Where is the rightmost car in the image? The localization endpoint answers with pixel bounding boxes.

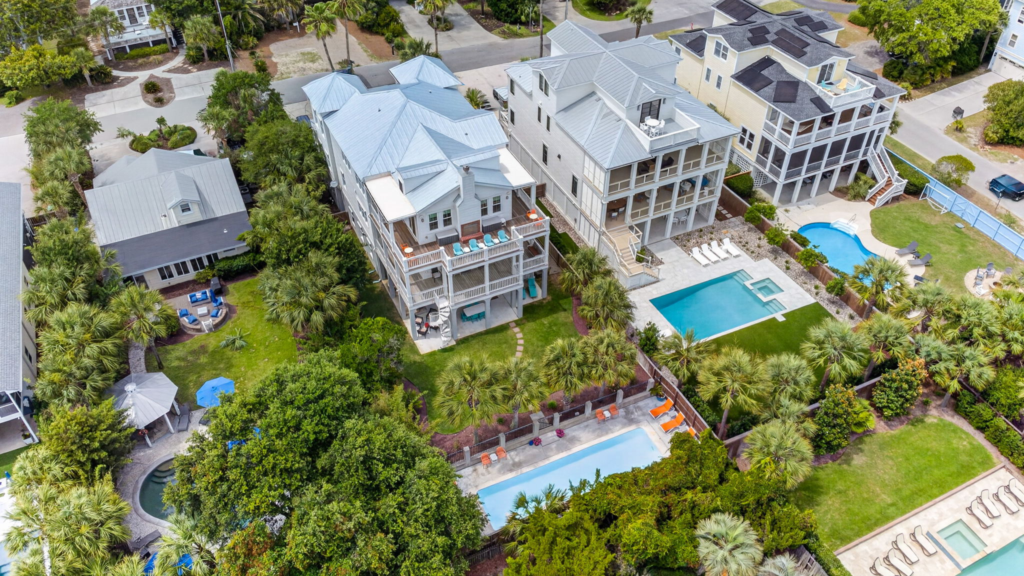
[995,173,1024,206]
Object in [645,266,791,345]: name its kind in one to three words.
swimming pool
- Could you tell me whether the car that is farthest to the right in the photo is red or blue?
blue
